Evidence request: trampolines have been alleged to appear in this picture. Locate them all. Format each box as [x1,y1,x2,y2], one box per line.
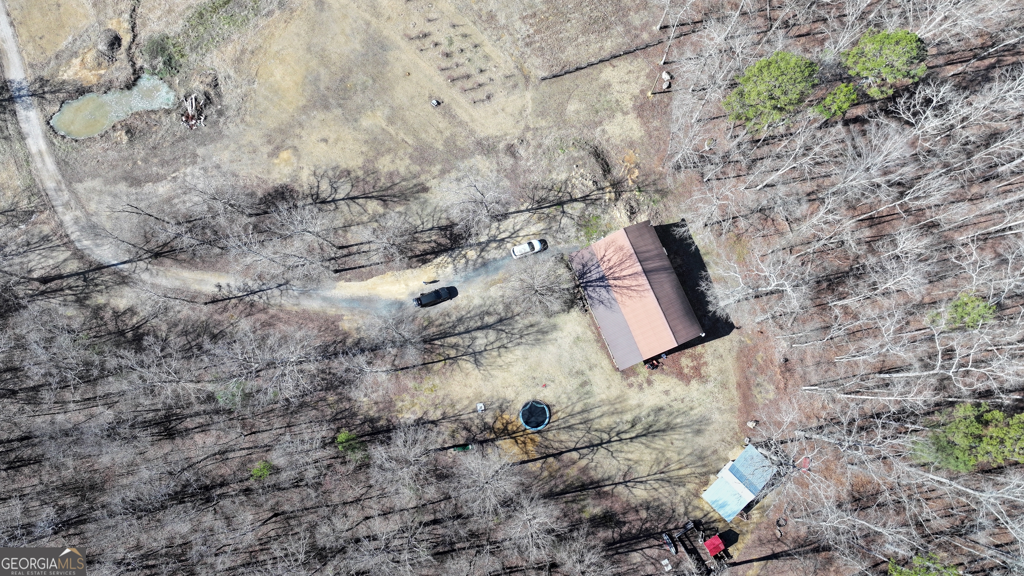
[520,399,550,430]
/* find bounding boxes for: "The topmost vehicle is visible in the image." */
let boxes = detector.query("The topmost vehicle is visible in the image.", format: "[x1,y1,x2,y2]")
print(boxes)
[509,239,542,259]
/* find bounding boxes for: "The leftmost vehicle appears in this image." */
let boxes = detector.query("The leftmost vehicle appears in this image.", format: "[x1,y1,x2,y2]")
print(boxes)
[410,287,451,309]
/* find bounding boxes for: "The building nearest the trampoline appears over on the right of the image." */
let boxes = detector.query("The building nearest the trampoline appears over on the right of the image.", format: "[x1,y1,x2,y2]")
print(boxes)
[568,219,705,370]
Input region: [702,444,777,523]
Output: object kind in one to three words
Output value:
shed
